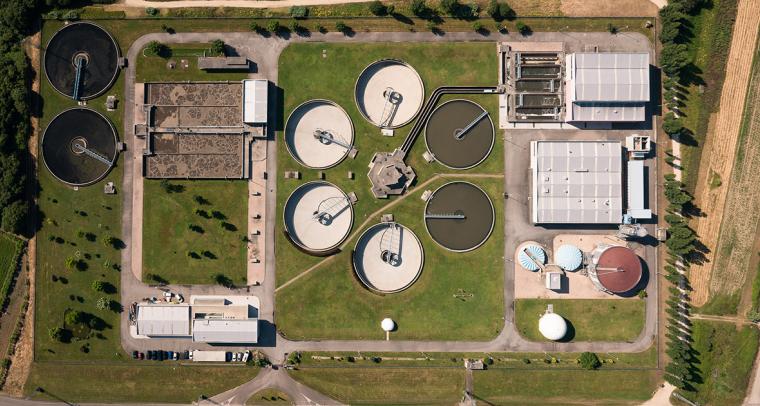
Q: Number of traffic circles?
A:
0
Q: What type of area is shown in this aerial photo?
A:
industrial area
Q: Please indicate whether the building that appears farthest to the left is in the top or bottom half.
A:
bottom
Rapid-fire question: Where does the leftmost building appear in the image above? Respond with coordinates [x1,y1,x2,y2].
[137,304,191,335]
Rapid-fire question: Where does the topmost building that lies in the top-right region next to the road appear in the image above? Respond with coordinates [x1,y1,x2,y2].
[571,53,650,103]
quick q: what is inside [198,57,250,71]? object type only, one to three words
shed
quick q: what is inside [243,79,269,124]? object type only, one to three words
house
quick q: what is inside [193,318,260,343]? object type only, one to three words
building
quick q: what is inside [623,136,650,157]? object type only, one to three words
building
